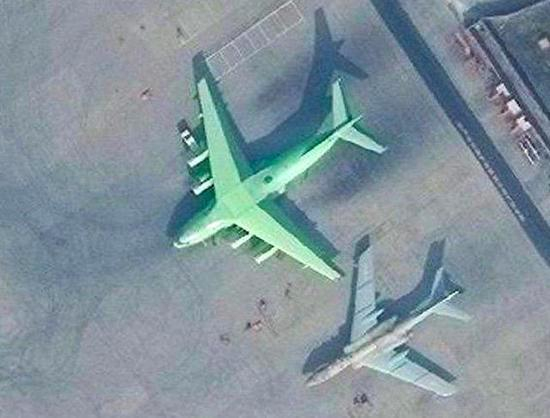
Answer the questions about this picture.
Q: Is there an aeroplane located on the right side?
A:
Yes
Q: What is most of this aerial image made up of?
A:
paved ground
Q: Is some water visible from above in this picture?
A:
No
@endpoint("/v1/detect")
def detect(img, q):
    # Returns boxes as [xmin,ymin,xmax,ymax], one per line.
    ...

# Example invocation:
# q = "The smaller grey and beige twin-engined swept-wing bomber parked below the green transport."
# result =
[305,250,475,396]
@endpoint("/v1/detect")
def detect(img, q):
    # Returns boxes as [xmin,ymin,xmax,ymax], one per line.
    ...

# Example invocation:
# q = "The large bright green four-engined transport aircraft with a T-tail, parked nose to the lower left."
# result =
[175,77,388,279]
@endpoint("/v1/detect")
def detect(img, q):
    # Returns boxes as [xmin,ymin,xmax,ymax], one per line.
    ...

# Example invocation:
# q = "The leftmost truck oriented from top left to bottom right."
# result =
[177,127,200,152]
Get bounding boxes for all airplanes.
[175,77,388,279]
[305,250,475,396]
